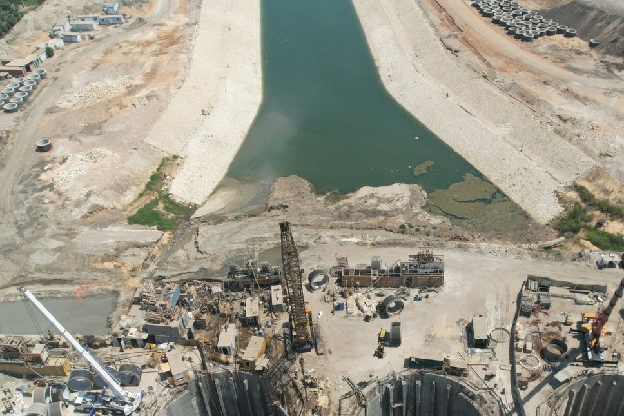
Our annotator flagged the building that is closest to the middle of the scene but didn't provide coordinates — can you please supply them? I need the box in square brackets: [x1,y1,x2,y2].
[272,285,288,316]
